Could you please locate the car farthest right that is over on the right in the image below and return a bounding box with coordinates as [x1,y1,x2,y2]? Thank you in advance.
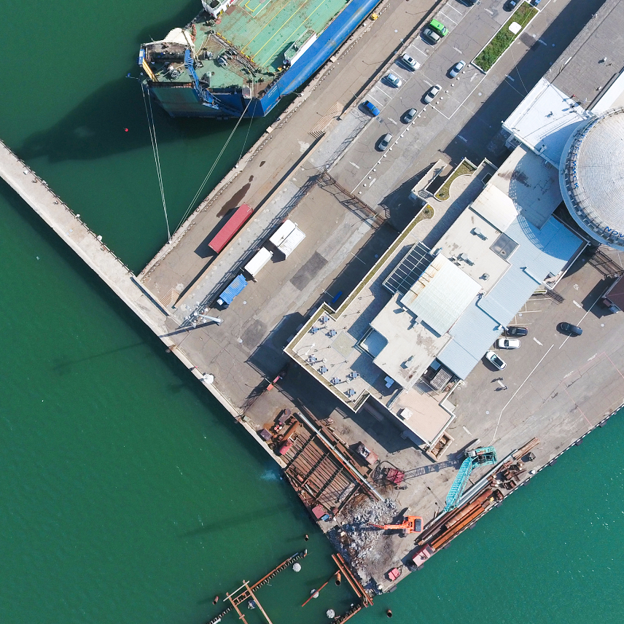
[558,321,581,336]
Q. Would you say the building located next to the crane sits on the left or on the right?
right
